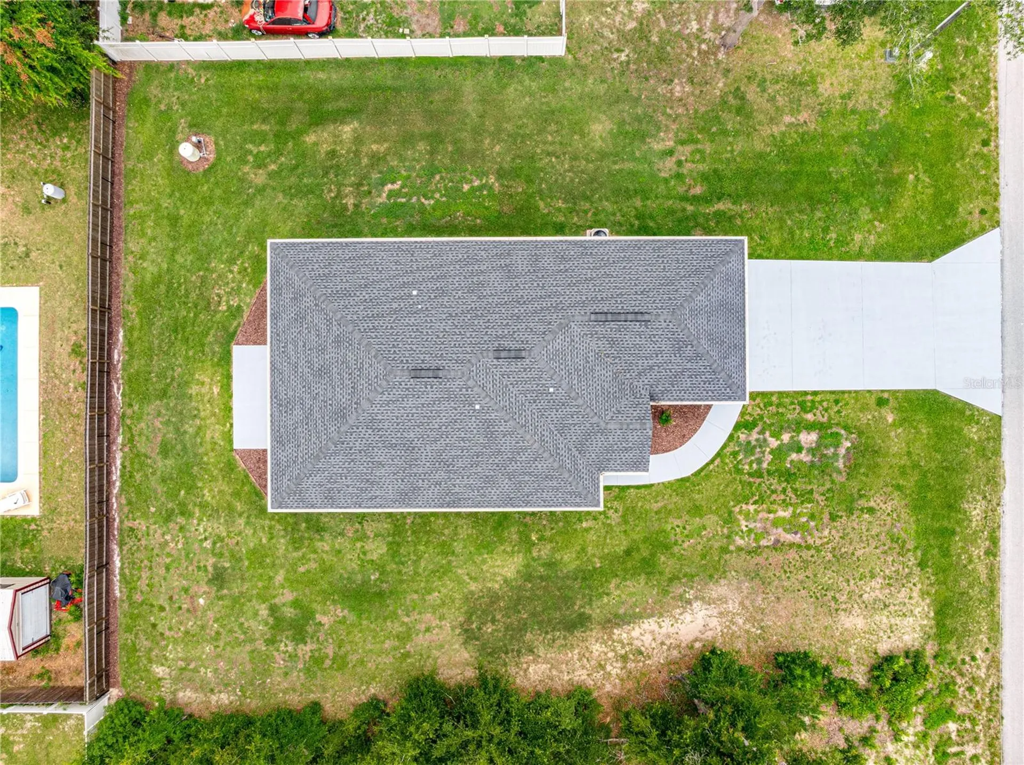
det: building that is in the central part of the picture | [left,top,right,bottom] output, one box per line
[268,235,751,514]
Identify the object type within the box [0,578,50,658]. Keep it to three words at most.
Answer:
shed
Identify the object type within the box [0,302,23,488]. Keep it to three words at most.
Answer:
swimming pool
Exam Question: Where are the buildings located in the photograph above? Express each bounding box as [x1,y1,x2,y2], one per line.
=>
[268,235,751,514]
[0,578,50,658]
